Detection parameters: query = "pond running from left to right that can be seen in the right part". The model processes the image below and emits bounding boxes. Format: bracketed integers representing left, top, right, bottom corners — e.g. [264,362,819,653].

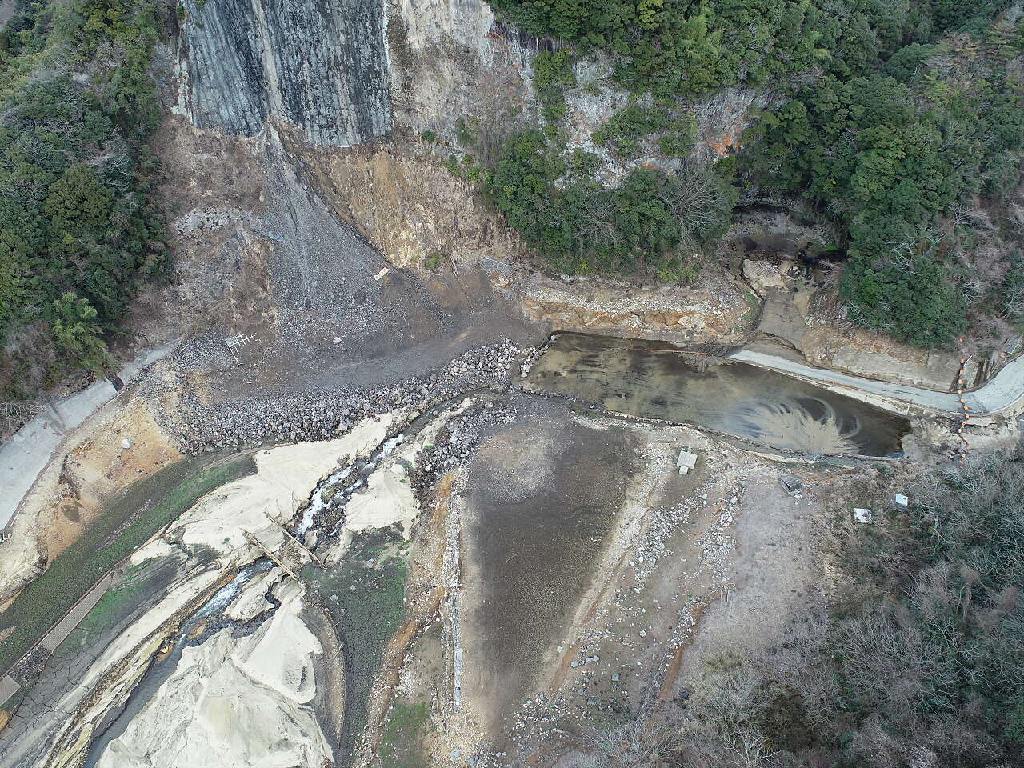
[515,332,913,461]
